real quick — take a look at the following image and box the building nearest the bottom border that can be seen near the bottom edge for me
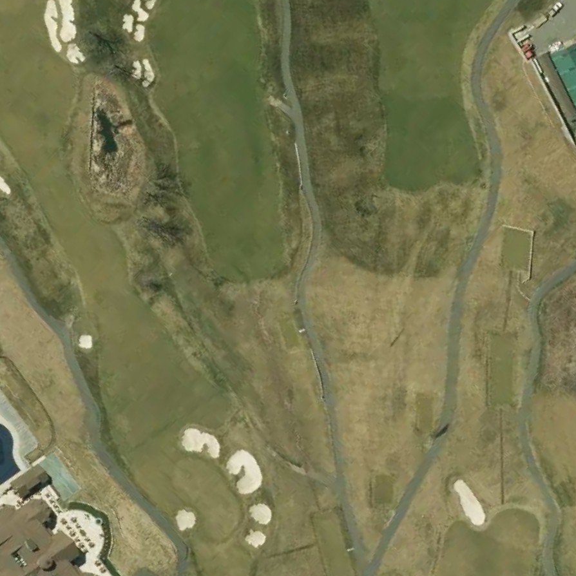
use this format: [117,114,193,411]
[0,497,83,576]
